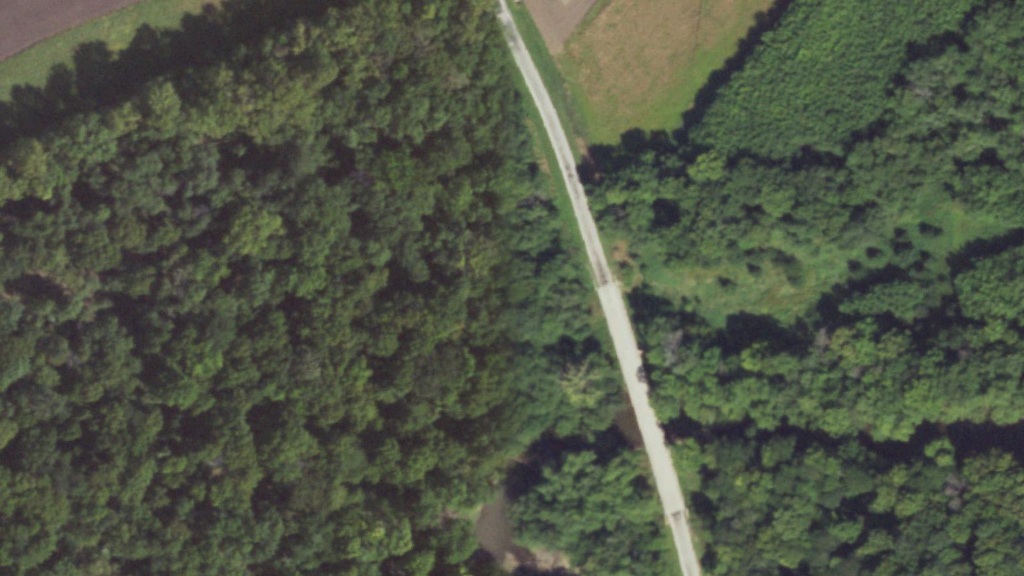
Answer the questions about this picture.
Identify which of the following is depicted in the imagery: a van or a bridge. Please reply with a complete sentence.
It is a bridge that can be seen here.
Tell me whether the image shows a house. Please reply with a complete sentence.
No, there's no house here.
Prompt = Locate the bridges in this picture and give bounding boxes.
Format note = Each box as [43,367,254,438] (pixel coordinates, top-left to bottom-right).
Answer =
[596,279,688,523]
